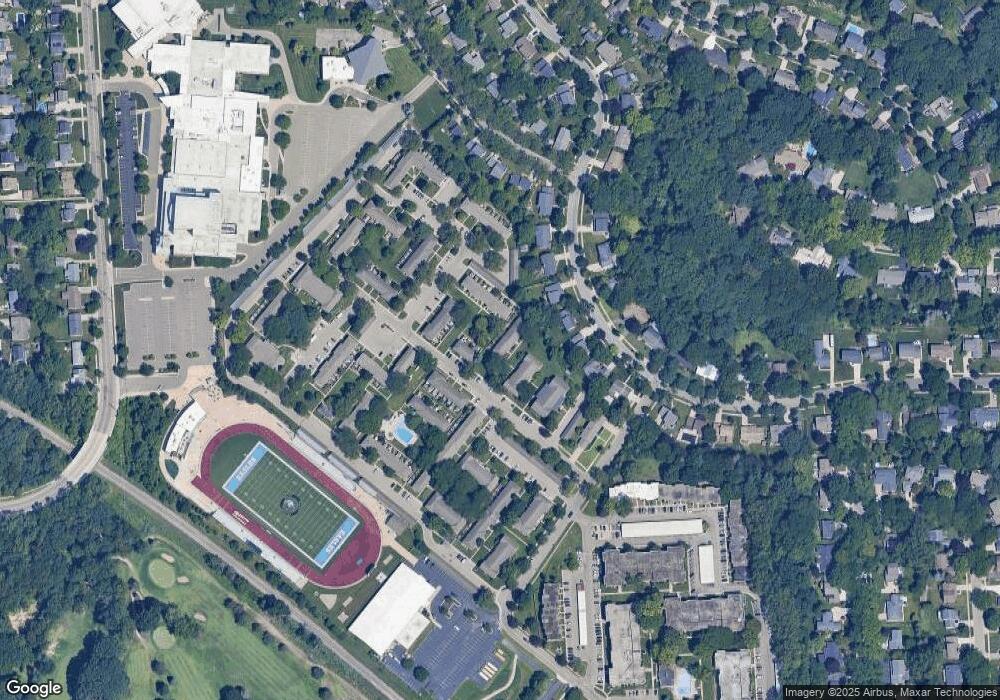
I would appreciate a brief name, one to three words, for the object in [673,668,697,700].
swimming pool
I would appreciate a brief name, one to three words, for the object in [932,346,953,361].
house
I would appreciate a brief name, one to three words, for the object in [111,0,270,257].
building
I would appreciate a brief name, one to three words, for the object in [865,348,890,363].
house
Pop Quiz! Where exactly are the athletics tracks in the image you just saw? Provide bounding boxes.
[189,423,383,588]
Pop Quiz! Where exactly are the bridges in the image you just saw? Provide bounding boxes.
[55,424,111,486]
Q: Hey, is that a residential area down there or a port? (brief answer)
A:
residential area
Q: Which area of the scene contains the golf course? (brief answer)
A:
bottom left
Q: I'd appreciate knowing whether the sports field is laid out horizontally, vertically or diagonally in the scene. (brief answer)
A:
diagonally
